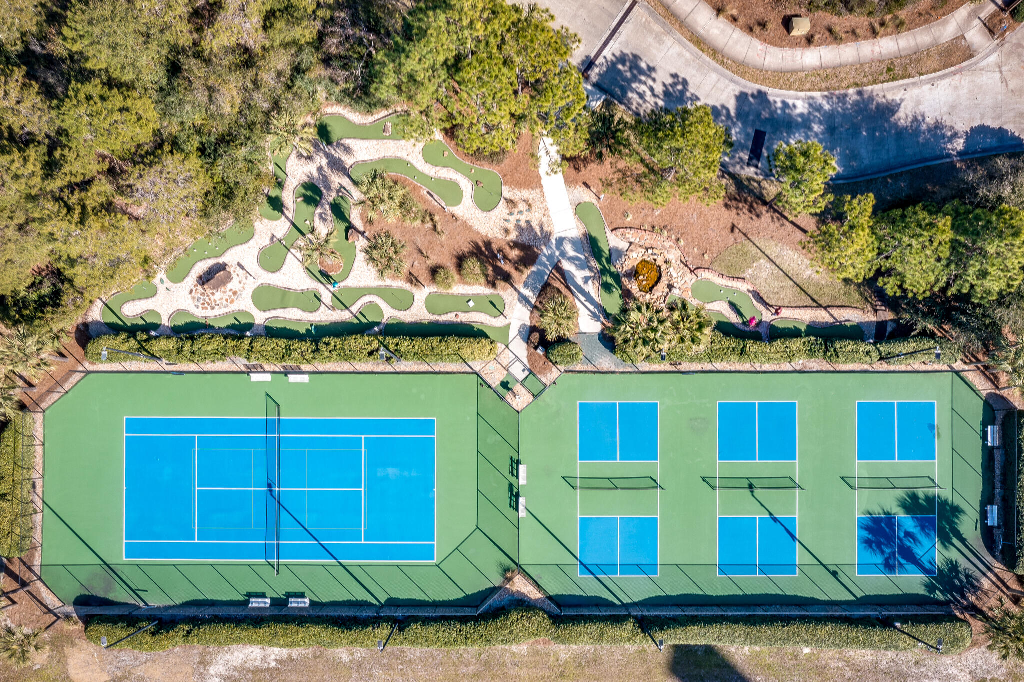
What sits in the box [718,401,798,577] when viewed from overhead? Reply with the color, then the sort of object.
blue sports court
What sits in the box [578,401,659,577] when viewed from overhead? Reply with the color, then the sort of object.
blue sports court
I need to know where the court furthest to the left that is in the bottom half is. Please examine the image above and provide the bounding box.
[41,373,518,606]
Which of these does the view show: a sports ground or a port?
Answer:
sports ground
